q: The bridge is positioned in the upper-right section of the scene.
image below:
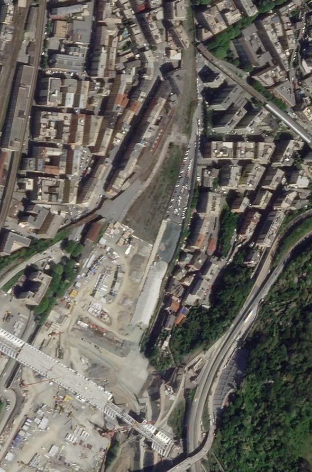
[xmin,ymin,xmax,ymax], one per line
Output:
[195,40,271,108]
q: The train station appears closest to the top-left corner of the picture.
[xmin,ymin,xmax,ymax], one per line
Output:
[4,66,36,150]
